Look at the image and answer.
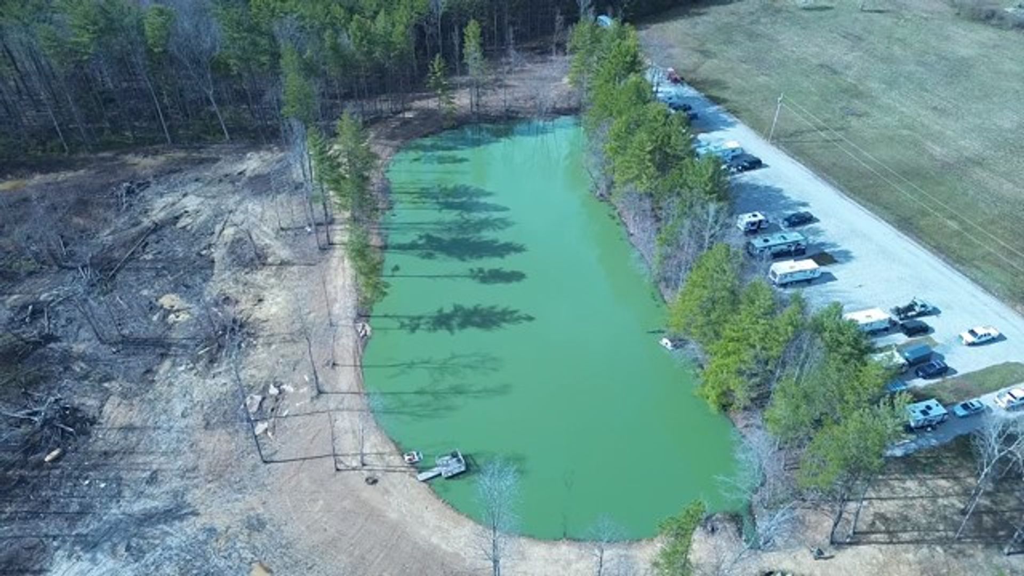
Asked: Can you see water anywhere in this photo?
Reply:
Yes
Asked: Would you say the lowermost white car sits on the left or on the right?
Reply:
right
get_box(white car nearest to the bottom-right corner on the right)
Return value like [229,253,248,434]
[997,386,1024,409]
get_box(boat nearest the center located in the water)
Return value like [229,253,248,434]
[657,336,679,350]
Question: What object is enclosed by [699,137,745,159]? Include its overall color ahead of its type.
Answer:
blue vehicle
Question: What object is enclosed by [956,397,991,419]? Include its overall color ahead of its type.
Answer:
blue car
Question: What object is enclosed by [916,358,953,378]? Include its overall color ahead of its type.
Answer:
blue car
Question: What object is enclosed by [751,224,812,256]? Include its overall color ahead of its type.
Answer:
blue camper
